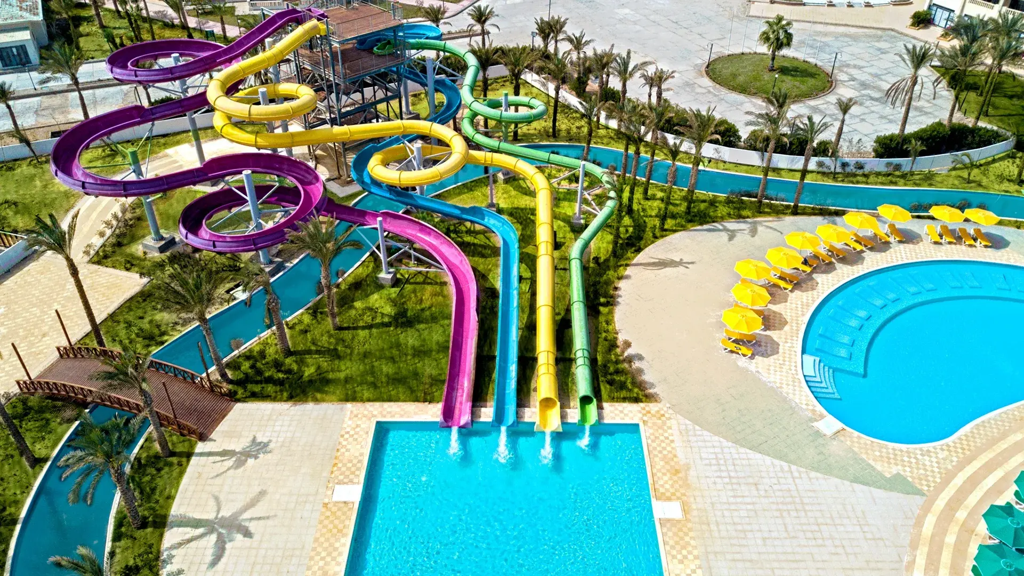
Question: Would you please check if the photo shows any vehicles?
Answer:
No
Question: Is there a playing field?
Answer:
No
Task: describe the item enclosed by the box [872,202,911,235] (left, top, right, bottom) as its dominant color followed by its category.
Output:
yellow umbrella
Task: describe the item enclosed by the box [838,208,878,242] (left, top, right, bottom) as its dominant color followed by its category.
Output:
yellow umbrella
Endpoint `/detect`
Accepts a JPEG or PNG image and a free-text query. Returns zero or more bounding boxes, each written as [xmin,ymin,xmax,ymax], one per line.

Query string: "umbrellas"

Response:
[974,503,1024,553]
[720,304,763,345]
[814,221,853,257]
[872,202,911,235]
[967,541,1024,576]
[783,229,822,251]
[838,208,878,242]
[732,256,772,281]
[730,280,772,305]
[763,245,804,281]
[927,202,964,233]
[960,205,999,235]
